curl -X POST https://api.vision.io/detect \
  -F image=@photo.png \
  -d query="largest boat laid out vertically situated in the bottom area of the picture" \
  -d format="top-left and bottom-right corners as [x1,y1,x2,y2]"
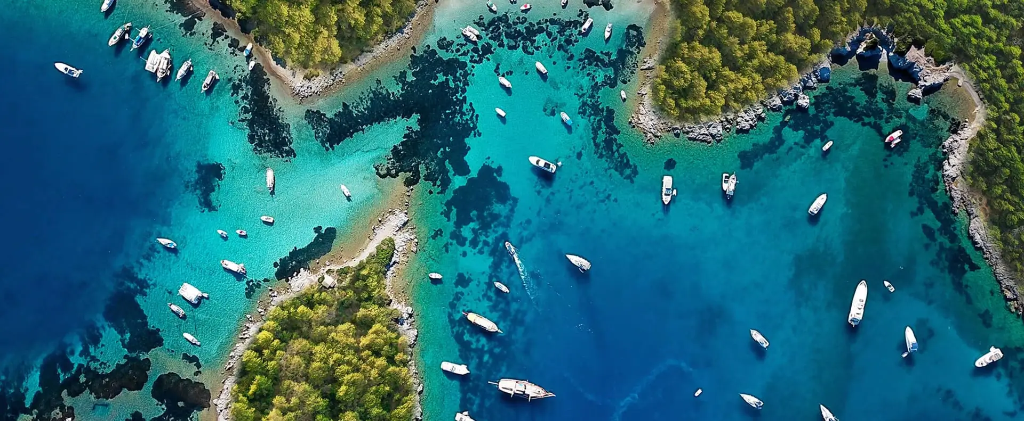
[848,281,867,326]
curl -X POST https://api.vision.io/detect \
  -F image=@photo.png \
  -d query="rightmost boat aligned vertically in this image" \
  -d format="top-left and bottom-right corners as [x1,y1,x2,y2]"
[905,327,918,354]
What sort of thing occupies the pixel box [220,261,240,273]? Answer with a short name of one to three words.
boat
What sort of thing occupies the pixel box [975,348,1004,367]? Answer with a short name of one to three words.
boat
